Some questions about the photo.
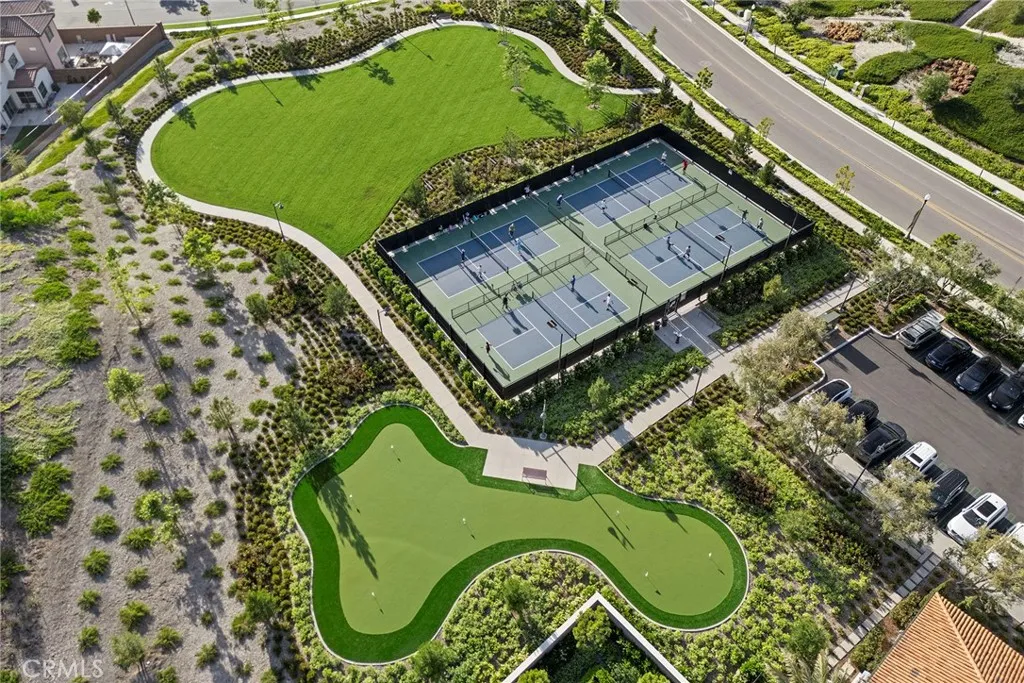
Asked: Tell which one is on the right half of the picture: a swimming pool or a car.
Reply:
car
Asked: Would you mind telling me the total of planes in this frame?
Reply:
zero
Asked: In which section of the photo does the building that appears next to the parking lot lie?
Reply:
bottom right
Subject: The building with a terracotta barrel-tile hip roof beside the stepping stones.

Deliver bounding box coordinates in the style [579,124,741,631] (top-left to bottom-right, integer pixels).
[867,591,1024,683]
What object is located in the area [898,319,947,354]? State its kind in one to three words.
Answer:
car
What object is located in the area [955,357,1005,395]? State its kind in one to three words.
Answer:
car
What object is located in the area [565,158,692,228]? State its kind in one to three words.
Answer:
sports court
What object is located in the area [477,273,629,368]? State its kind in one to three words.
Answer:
sports court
